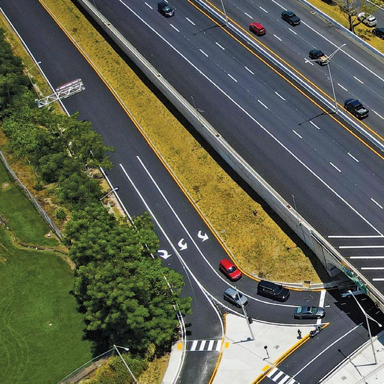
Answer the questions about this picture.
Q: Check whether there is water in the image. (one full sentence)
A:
No, there is no water in the image.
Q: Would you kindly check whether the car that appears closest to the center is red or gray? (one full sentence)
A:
The car that appears closest to the center looks red in the image.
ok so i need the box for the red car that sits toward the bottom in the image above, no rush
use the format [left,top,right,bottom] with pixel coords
[218,258,245,282]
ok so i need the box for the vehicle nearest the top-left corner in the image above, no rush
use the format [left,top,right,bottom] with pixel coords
[157,0,176,17]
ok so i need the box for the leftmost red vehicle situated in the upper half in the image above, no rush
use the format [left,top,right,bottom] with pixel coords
[248,22,268,37]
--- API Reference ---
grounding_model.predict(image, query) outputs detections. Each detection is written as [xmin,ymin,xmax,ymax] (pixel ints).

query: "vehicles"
[321,0,338,5]
[294,306,326,321]
[281,11,300,26]
[357,12,379,26]
[256,278,292,302]
[370,26,384,41]
[307,49,331,66]
[344,99,370,119]
[222,289,250,309]
[339,287,369,301]
[157,0,176,17]
[248,22,268,37]
[308,326,321,336]
[218,258,245,282]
